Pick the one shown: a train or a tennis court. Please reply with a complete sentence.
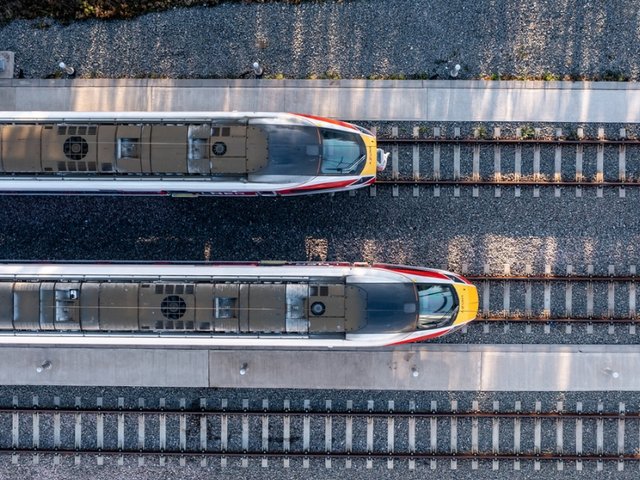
This aerial view contains a train.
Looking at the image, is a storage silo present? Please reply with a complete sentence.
No, the frame has no storage silo in it.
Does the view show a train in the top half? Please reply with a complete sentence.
Yes, a train can be seen in the top half.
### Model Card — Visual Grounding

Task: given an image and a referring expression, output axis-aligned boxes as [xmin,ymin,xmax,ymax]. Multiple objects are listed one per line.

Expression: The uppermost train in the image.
[0,112,389,198]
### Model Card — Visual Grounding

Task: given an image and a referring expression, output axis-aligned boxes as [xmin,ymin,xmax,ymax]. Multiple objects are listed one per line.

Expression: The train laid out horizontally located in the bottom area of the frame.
[0,259,478,346]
